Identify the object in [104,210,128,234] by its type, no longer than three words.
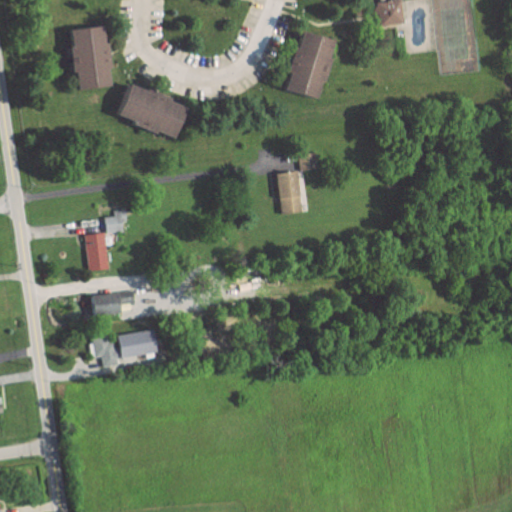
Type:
building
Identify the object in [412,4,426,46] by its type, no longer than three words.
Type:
swimming pool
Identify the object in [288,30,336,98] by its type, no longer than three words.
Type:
building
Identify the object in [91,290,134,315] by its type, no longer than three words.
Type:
house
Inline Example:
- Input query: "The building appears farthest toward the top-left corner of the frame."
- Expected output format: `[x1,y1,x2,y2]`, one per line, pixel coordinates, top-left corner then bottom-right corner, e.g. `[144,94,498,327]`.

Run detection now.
[72,24,112,89]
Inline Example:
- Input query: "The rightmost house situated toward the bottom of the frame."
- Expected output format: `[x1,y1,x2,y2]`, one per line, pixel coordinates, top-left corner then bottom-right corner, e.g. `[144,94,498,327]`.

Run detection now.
[118,331,158,360]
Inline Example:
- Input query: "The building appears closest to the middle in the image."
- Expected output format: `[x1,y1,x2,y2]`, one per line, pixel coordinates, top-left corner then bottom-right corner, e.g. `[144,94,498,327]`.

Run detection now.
[278,171,308,214]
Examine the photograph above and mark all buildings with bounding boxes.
[85,234,114,272]
[118,331,158,360]
[118,84,186,138]
[278,171,308,214]
[89,340,118,368]
[104,210,128,234]
[298,156,313,172]
[375,0,404,26]
[91,290,134,315]
[72,24,112,89]
[288,30,336,98]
